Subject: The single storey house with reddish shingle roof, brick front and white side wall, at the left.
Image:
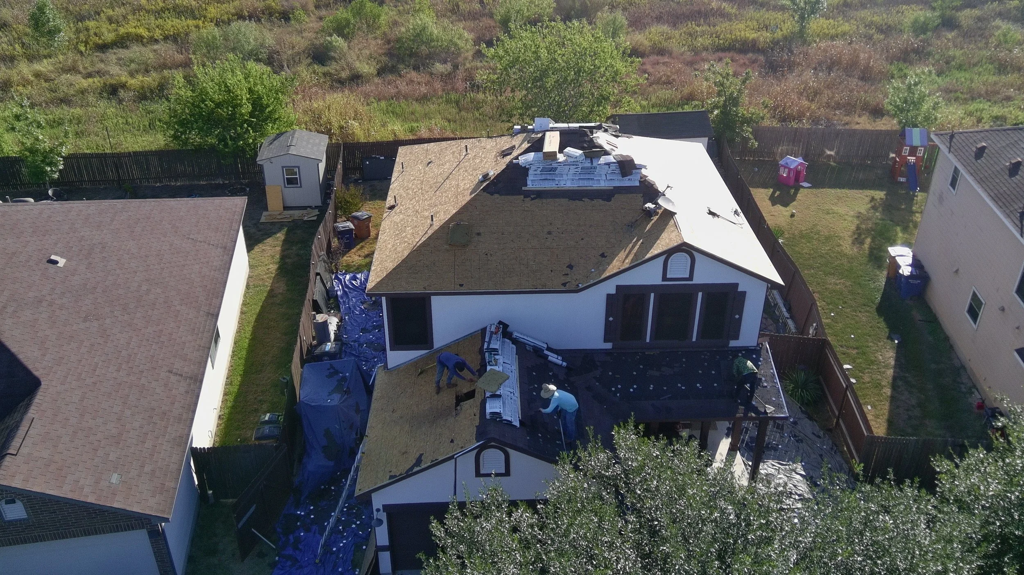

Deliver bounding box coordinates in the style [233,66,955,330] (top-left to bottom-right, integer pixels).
[0,196,250,575]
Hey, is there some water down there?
No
